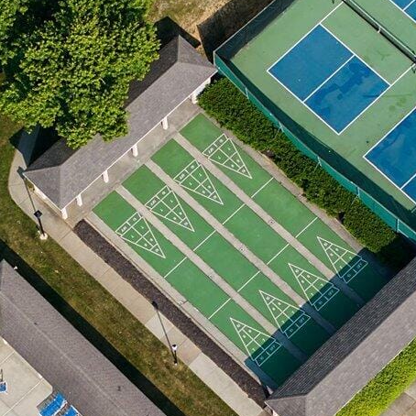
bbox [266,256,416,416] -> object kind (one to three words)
building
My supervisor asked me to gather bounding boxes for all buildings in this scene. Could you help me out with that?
[24,34,218,222]
[266,256,416,416]
[0,261,163,416]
